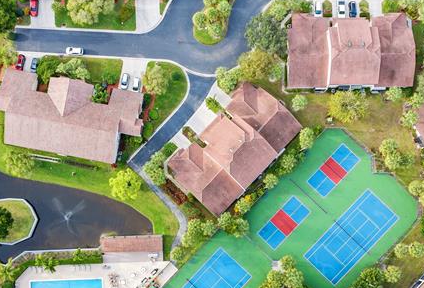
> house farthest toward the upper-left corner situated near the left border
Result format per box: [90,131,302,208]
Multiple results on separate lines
[0,69,144,165]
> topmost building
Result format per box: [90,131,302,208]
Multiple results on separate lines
[283,12,414,96]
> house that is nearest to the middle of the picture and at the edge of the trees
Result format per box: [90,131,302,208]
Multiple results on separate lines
[169,80,302,218]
